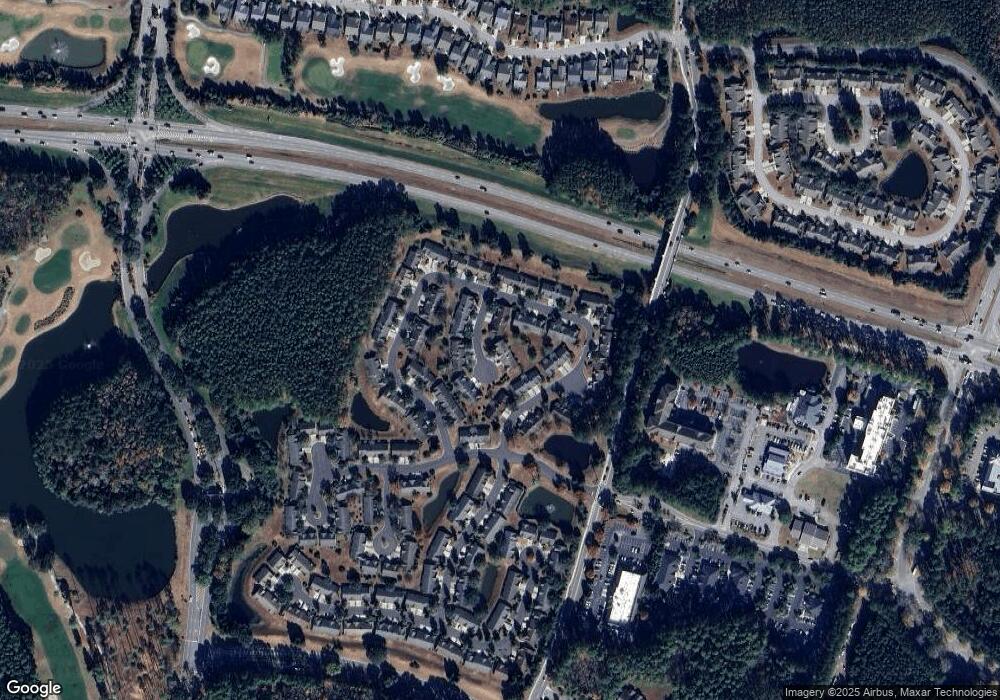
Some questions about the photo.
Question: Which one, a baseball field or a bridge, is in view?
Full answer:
Looking from above, you can make out a bridge.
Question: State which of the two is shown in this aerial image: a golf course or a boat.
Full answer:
Visible in the photo is a golf course.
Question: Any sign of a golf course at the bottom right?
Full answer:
No, the scene shows no golf course at the bottom right.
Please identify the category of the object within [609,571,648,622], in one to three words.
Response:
building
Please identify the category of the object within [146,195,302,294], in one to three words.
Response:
pond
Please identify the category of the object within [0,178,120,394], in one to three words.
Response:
golf course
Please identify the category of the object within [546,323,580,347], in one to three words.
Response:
house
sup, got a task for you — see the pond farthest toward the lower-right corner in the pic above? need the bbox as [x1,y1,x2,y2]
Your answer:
[738,344,826,396]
